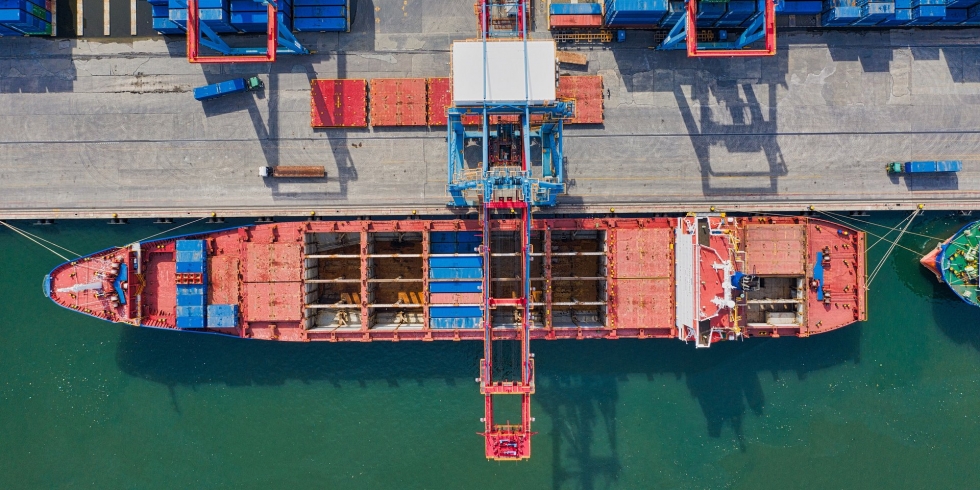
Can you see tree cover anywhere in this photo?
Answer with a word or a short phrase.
No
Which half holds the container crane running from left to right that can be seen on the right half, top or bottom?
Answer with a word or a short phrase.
top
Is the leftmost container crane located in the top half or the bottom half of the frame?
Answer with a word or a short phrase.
top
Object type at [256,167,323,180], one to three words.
vehicle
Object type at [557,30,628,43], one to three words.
vehicle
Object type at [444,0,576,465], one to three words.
container crane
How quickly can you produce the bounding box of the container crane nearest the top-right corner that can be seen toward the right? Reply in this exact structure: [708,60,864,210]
[646,0,778,58]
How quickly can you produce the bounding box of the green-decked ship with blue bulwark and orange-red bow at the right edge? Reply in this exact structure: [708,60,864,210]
[922,221,980,304]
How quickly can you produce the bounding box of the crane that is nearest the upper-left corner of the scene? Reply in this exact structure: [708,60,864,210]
[187,0,319,65]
